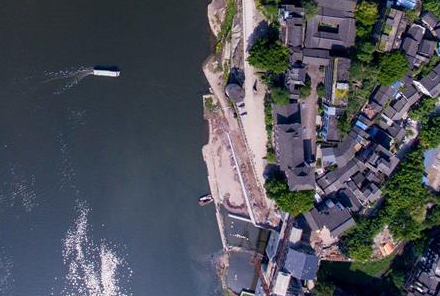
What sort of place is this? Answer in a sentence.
It's a residential area.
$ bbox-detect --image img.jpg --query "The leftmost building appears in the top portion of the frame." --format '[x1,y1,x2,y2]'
[225,82,244,102]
